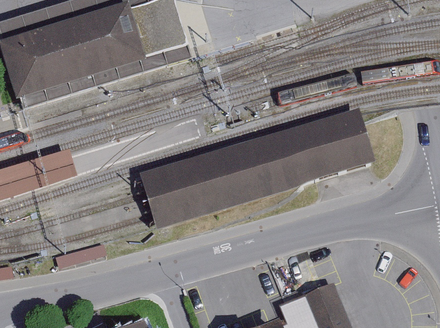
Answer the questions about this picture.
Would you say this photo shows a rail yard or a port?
rail yard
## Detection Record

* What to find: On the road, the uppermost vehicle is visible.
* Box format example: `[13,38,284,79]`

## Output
[418,122,430,145]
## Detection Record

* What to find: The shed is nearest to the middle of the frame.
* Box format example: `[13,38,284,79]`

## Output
[140,108,374,230]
